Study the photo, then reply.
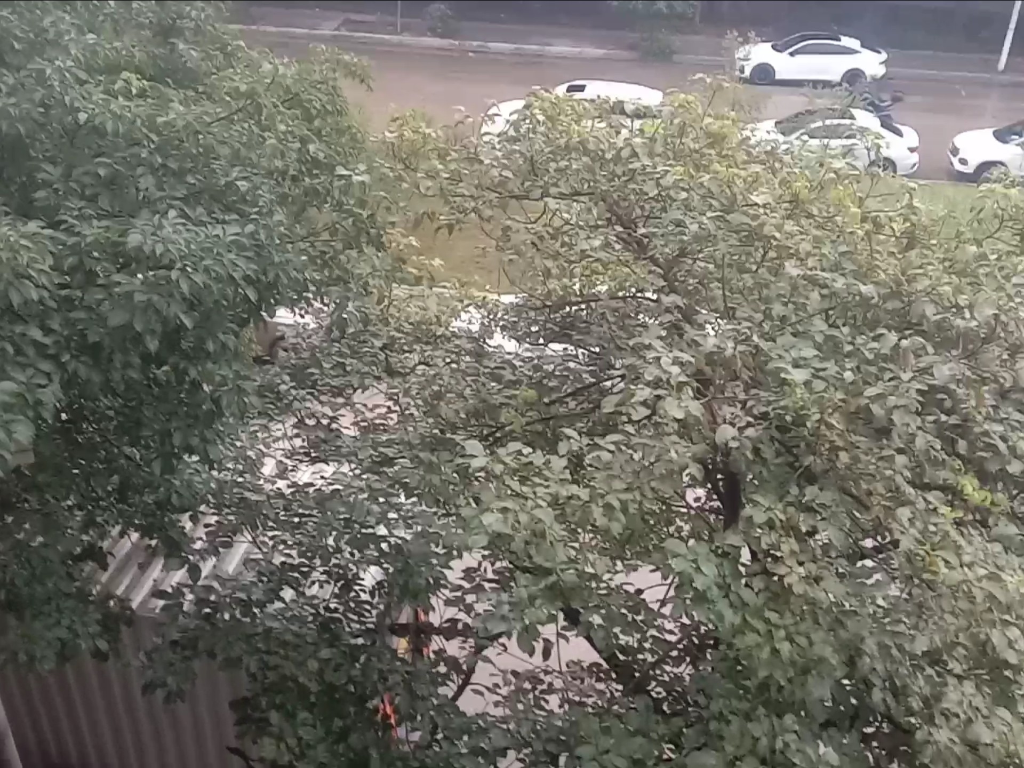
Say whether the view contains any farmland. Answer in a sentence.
No, there's no farmland in this view.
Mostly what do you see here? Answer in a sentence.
Most of the picture is covered by trees.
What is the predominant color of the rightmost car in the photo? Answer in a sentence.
The rightmost car is white.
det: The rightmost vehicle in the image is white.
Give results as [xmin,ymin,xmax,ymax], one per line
[945,116,1024,185]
